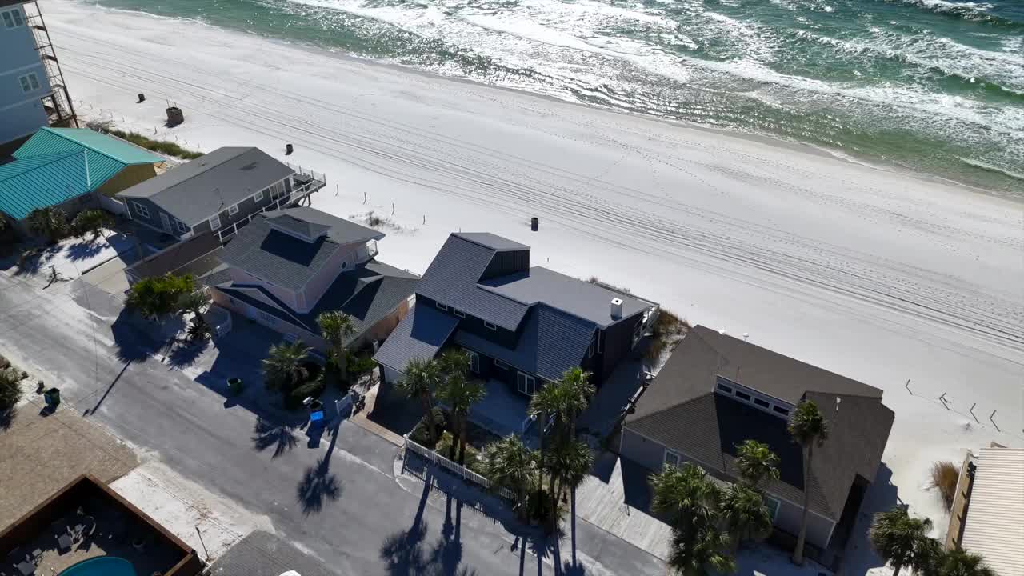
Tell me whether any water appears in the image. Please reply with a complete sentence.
Yes, some water is visible.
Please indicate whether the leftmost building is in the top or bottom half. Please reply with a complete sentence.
The leftmost building sits in the top half of the picture.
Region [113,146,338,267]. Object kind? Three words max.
house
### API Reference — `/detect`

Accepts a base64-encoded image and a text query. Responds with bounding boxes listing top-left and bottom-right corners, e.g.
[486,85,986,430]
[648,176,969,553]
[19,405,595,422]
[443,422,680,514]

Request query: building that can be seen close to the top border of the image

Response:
[0,0,80,145]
